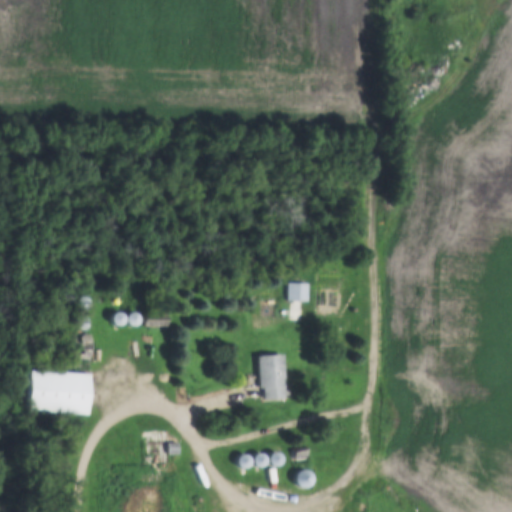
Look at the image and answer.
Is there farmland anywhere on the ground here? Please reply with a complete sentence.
Yes, the picture does contain farmland.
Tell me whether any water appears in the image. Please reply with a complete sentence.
No, no water is visible.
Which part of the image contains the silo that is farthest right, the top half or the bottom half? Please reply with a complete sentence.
The silo that is farthest right is in the bottom half of the image.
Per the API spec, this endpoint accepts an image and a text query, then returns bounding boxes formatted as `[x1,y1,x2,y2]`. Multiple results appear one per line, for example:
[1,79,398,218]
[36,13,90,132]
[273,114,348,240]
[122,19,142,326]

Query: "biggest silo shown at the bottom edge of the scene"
[297,469,316,489]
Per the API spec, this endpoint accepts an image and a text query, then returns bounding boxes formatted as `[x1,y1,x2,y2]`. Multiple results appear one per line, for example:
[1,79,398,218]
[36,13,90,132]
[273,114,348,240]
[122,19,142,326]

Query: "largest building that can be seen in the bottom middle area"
[258,354,290,401]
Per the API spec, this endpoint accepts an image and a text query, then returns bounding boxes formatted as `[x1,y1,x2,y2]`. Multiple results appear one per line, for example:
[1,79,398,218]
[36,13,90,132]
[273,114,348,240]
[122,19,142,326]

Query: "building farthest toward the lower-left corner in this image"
[30,370,94,416]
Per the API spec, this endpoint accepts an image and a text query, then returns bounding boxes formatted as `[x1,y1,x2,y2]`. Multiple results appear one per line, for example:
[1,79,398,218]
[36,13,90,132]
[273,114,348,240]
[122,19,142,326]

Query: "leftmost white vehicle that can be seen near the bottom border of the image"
[196,462,210,490]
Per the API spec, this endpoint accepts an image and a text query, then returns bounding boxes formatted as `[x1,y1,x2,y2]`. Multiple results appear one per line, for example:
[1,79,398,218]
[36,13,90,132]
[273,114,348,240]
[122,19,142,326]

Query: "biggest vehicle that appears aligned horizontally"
[258,490,298,504]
